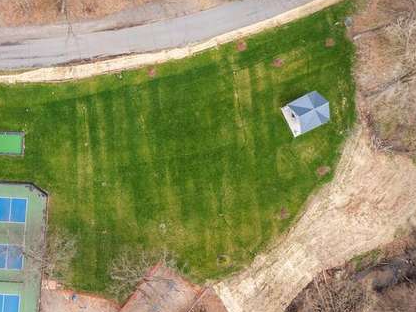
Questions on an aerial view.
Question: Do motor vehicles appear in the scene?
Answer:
No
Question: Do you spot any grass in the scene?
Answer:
Yes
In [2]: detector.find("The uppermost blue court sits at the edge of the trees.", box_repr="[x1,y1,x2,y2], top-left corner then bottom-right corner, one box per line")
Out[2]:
[0,196,27,269]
